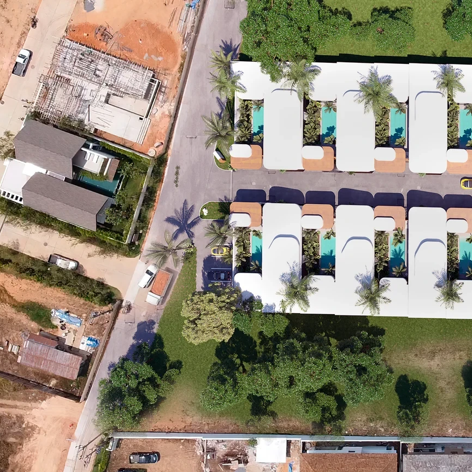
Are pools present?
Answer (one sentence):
Yes, a pool is visible in the scene.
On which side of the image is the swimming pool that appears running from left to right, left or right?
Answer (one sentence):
The swimming pool that appears running from left to right appears in the left half of the scene.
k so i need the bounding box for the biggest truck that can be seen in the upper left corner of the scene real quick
[8,47,30,78]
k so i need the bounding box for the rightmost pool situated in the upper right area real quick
[458,106,472,149]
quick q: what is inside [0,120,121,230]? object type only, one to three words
house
